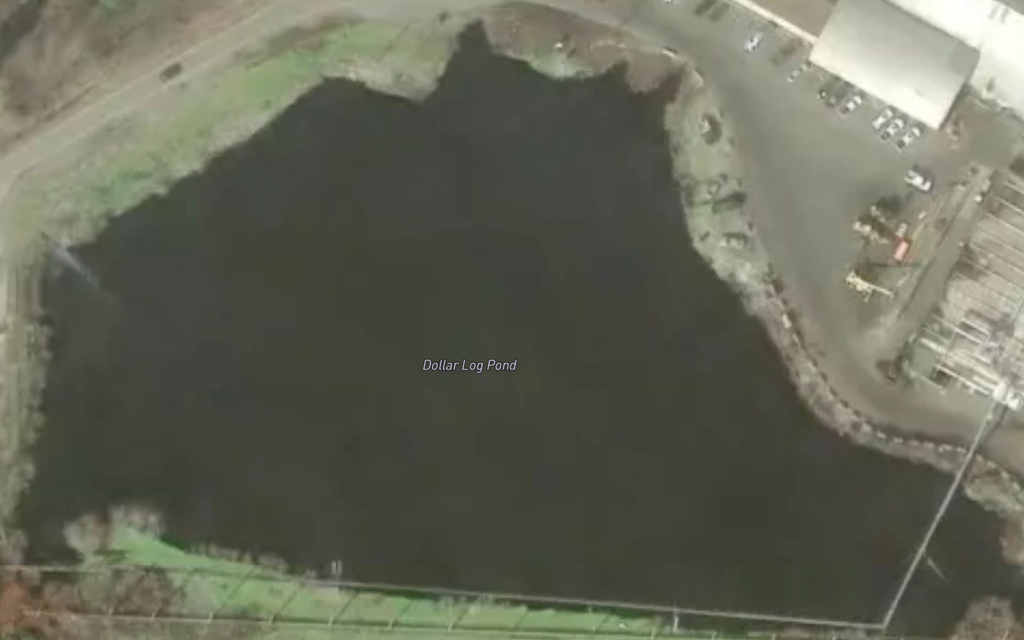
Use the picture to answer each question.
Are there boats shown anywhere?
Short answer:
No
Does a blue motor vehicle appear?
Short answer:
No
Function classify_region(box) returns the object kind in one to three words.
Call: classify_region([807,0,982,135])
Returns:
building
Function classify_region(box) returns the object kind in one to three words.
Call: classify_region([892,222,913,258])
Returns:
truck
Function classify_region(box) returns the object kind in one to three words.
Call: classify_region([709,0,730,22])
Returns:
car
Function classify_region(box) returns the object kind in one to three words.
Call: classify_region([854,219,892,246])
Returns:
work vehicle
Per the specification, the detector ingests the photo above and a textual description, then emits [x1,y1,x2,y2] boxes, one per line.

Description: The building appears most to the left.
[732,0,836,44]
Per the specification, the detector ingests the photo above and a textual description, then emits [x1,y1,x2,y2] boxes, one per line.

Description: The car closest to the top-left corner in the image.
[159,62,183,81]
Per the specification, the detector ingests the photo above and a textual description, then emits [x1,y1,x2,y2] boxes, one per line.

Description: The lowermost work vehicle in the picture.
[846,267,901,301]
